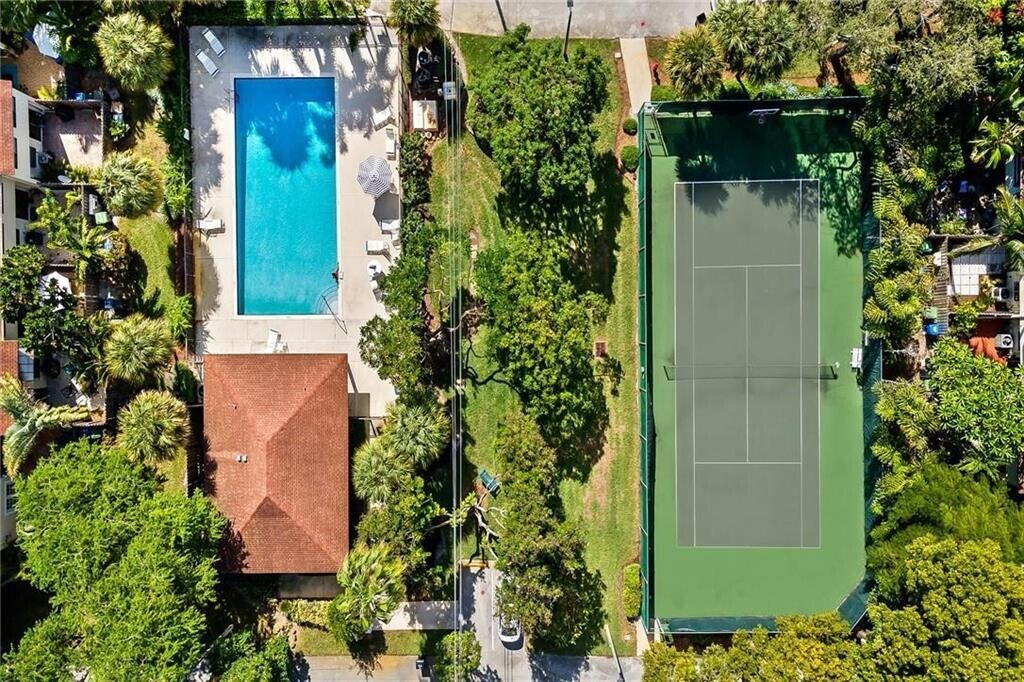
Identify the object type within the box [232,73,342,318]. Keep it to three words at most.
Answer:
swimming pool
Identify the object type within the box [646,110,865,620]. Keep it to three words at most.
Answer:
tennis court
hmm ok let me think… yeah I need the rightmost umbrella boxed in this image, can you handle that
[358,160,392,194]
